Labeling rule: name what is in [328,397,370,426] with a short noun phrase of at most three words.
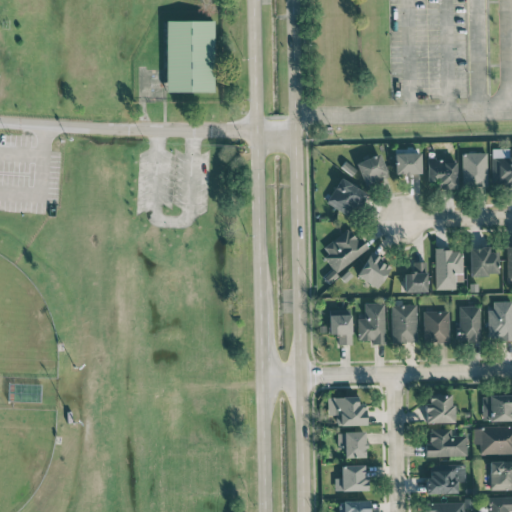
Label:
house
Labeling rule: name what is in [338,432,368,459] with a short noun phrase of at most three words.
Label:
house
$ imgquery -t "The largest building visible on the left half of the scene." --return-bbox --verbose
[167,20,216,93]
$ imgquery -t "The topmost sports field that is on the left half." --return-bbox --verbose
[0,254,58,378]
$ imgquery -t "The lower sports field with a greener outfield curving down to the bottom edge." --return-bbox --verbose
[0,410,56,512]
